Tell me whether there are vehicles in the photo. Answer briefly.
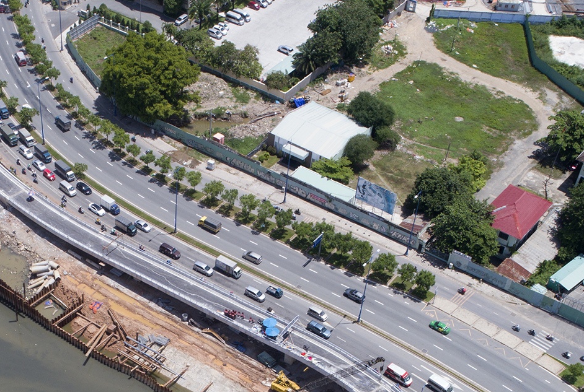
Yes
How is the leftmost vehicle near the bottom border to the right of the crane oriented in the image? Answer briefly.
diagonally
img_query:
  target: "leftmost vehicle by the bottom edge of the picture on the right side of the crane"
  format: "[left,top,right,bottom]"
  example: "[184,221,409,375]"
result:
[384,363,411,388]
